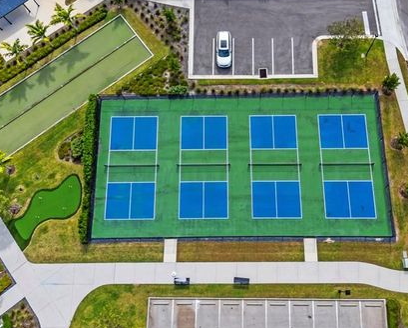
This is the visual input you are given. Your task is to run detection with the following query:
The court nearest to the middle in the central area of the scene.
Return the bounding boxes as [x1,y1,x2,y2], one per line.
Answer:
[177,116,228,219]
